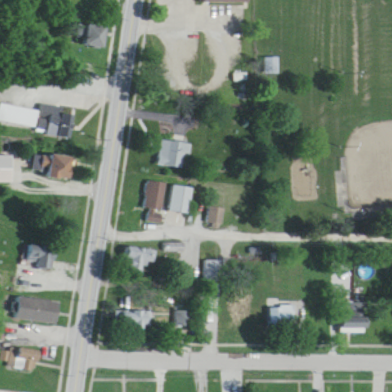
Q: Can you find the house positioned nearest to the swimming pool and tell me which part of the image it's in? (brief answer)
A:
bottom right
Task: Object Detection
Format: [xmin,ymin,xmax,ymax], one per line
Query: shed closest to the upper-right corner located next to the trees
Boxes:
[261,56,280,76]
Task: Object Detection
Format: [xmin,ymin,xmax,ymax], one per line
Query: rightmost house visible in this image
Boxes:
[337,302,372,334]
